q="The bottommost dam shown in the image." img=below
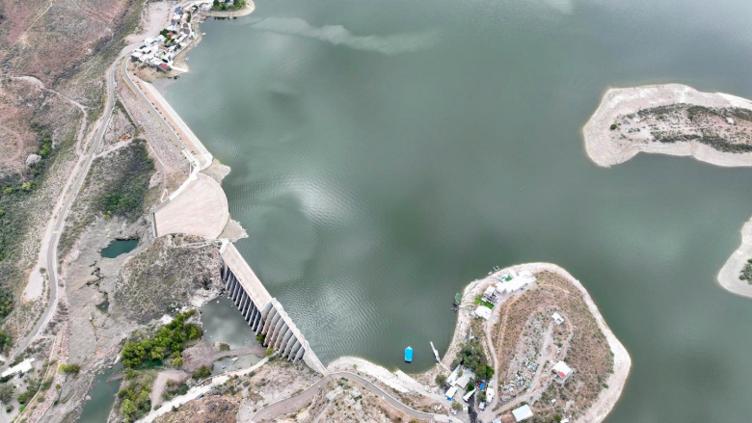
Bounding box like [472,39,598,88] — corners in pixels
[219,239,330,377]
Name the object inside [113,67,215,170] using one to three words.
dam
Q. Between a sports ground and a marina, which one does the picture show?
marina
